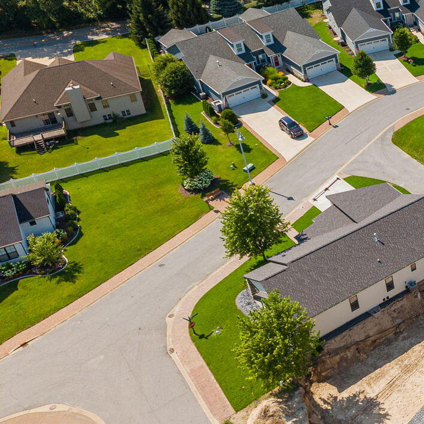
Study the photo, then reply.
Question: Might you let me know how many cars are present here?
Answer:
1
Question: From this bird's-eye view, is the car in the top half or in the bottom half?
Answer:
top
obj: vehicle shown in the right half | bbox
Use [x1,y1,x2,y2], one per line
[278,115,302,137]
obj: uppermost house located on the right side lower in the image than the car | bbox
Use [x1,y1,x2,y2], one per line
[238,184,424,338]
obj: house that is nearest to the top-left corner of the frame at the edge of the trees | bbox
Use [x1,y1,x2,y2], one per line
[0,44,146,152]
